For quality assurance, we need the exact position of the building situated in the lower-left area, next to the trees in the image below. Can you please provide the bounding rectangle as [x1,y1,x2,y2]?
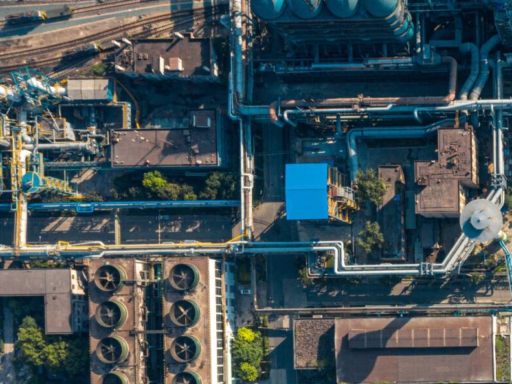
[0,269,89,334]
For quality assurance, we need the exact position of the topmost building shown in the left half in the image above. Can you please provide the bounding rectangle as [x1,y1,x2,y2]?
[109,30,222,82]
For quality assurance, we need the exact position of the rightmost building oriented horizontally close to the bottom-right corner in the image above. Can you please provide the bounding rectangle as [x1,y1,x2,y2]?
[336,316,512,383]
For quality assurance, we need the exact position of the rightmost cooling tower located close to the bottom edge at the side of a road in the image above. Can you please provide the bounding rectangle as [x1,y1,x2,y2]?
[164,258,238,384]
